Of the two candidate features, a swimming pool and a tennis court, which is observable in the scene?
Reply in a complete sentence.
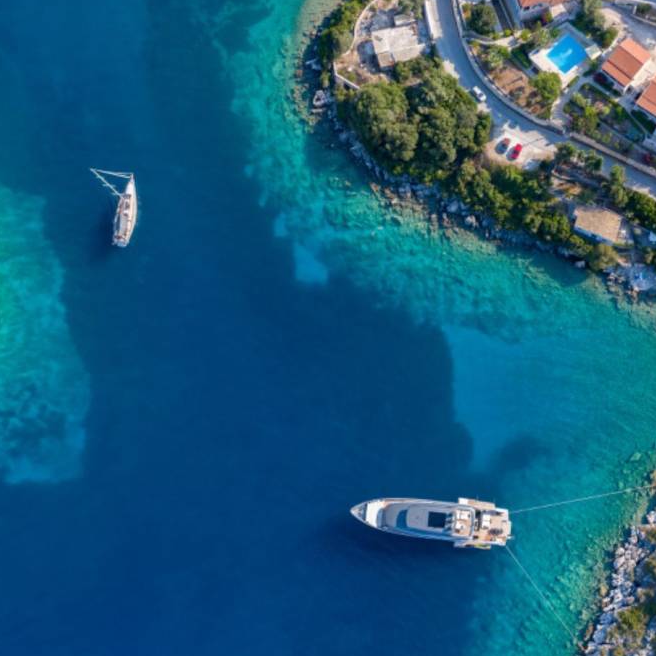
It is a swimming pool that can be seen here.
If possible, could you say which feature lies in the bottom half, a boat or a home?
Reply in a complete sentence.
What appears in the bottom half is a boat.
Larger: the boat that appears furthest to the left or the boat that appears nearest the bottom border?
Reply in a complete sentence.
It is the boat that appears nearest the bottom border that is larger, not the boat that appears furthest to the left.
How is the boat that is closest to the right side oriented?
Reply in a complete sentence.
What the image shows is the boat that is closest to the right side lying from left to right.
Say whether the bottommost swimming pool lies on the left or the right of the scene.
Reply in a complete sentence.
The bottommost swimming pool is on the right side of the image.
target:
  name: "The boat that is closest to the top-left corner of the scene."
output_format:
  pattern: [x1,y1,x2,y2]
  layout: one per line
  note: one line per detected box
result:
[90,171,137,247]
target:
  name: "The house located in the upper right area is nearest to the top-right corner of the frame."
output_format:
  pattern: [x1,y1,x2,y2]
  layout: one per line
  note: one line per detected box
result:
[600,38,651,90]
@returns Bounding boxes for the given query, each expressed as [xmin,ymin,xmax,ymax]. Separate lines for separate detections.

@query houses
[634,77,656,122]
[574,208,621,243]
[372,15,425,70]
[515,0,567,23]
[600,38,651,90]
